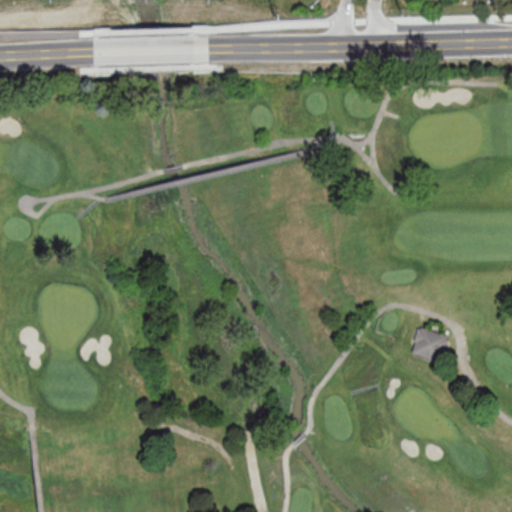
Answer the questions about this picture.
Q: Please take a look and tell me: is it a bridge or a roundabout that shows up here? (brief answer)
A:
bridge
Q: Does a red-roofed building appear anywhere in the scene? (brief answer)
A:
No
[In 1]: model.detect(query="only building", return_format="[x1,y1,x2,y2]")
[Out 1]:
[411,326,451,360]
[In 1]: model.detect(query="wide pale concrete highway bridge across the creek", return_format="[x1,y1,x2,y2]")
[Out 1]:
[80,26,224,77]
